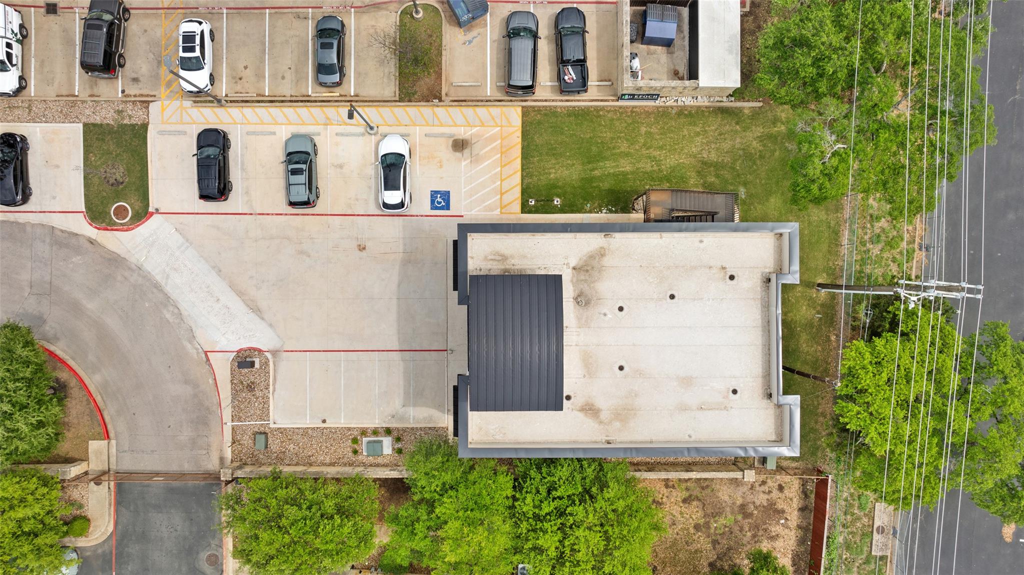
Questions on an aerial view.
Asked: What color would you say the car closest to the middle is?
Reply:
white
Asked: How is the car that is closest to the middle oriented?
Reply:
up and down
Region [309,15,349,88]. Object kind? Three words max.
car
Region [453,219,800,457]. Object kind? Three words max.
building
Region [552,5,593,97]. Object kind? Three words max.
vehicle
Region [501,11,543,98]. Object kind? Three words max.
car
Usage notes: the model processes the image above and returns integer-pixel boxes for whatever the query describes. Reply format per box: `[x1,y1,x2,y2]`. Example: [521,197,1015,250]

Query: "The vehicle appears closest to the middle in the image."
[373,133,413,213]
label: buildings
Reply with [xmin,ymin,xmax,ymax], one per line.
[453,219,800,457]
[689,0,741,97]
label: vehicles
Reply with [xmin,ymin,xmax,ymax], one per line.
[373,133,413,213]
[0,0,31,98]
[0,131,30,208]
[190,127,234,203]
[174,18,217,96]
[279,133,321,210]
[501,11,543,98]
[309,15,349,88]
[552,5,593,97]
[78,0,131,78]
